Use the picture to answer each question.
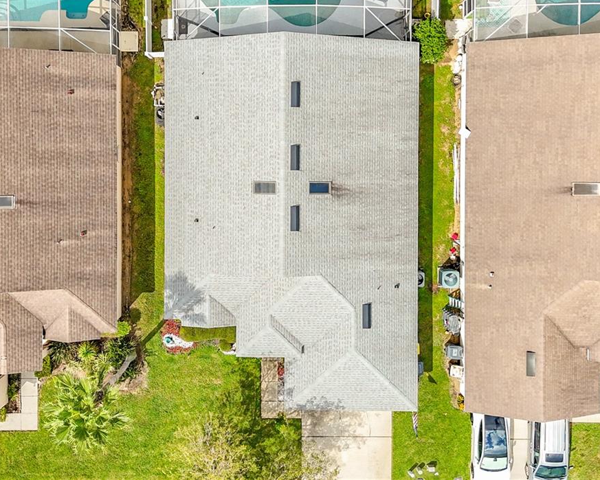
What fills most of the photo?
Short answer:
buildings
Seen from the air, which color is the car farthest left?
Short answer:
white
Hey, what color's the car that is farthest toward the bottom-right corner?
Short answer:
white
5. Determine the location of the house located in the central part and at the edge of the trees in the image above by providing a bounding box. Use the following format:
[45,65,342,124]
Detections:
[163,32,420,412]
